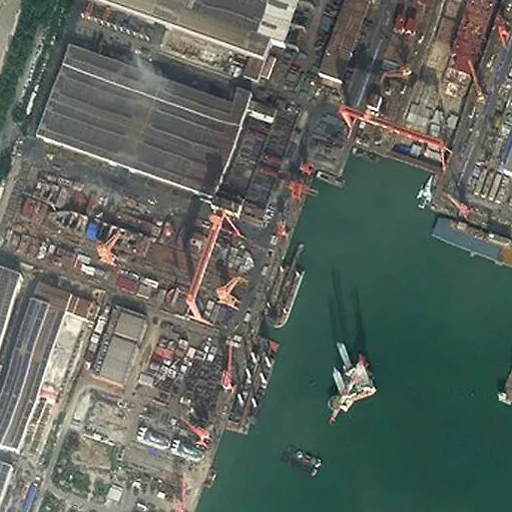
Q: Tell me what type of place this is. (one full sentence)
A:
This image shows a port.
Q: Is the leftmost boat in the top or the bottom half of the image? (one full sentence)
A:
You can find the leftmost boat in the bottom half.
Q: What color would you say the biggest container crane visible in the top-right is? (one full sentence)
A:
The biggest container crane visible in the top-right is red.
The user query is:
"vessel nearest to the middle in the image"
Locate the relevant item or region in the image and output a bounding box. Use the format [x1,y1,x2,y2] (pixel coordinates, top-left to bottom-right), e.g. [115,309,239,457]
[266,247,303,328]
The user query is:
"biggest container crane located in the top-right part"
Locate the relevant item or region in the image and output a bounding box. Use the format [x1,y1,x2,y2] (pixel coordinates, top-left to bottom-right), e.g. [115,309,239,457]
[341,106,455,172]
